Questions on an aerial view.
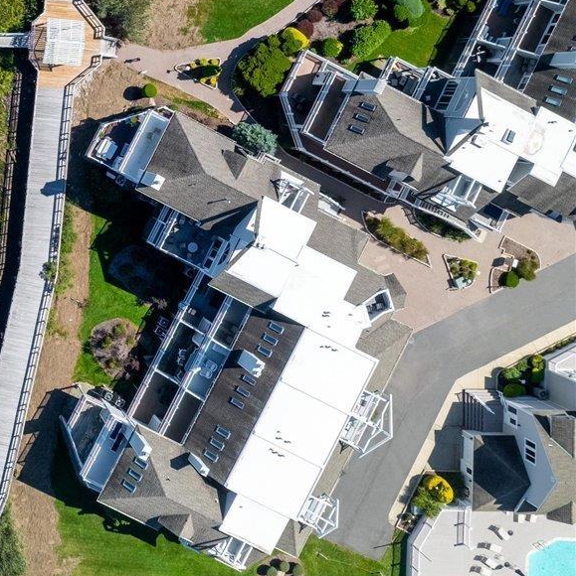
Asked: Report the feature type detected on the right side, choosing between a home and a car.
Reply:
home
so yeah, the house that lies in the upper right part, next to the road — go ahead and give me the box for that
[268,0,576,248]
